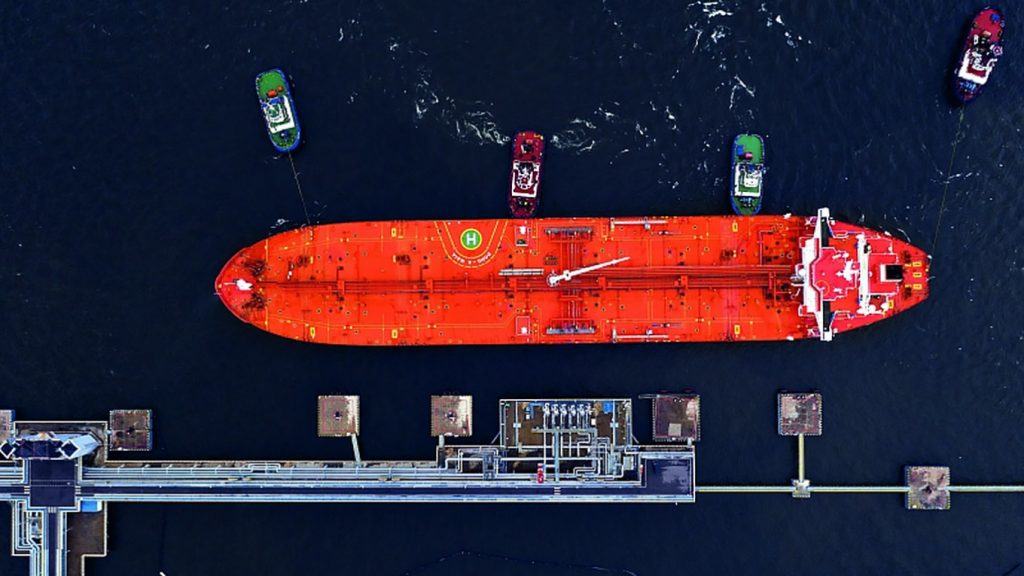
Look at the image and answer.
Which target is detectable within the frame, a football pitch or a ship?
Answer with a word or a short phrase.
ship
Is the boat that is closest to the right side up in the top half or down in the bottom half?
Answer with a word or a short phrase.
top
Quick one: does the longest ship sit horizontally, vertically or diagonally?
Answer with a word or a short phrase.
horizontally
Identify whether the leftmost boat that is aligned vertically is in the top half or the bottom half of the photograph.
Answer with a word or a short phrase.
top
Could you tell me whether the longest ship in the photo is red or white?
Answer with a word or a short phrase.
red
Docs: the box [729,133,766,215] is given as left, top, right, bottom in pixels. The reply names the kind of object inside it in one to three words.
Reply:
boat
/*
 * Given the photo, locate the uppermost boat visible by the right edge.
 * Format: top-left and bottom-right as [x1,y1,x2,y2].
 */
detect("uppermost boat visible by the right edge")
[948,5,1003,104]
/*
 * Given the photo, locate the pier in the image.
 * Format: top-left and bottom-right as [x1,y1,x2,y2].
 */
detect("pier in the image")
[0,399,695,576]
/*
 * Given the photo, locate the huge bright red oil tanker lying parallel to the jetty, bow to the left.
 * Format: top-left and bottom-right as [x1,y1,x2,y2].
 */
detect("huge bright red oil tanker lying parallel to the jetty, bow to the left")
[212,207,932,346]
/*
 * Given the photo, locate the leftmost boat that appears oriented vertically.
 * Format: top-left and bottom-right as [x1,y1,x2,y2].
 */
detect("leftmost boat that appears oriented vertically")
[256,68,302,155]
